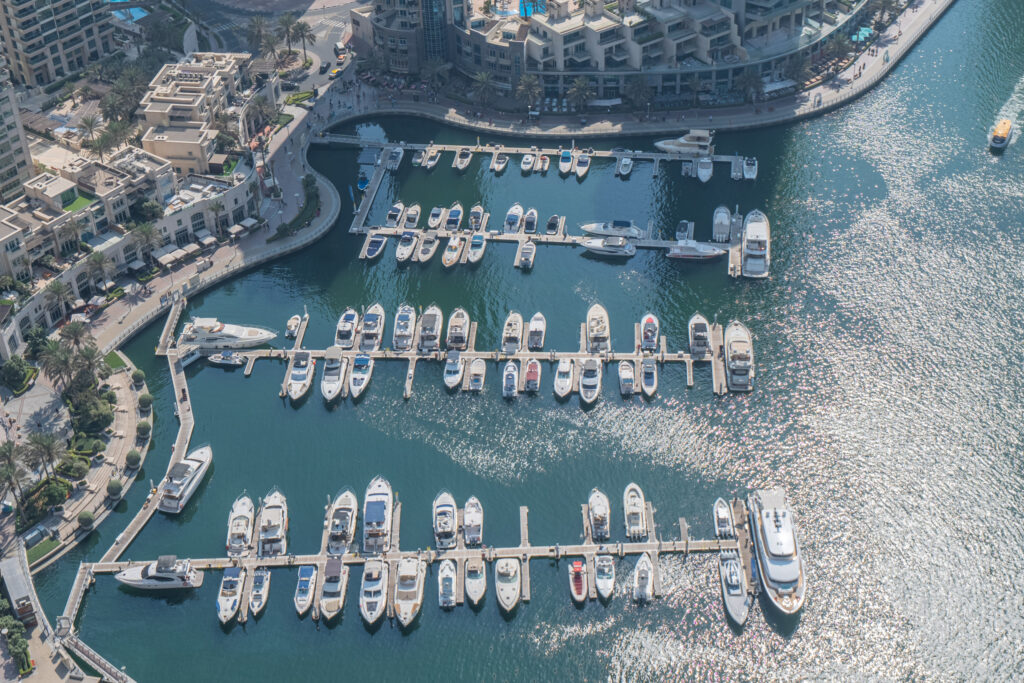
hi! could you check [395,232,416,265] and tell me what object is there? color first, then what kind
white boat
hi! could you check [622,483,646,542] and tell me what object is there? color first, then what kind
white boat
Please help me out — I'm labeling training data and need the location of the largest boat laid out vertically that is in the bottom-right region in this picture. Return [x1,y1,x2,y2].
[748,487,808,615]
